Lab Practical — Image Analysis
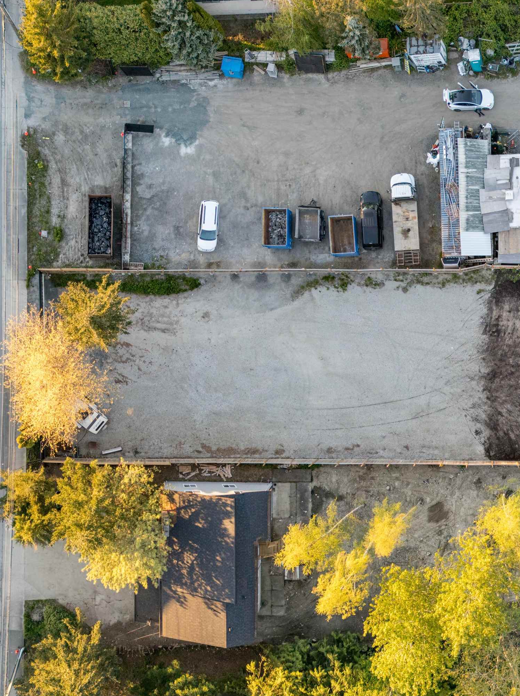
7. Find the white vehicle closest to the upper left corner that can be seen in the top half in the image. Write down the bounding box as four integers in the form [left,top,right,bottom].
[196,201,222,252]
